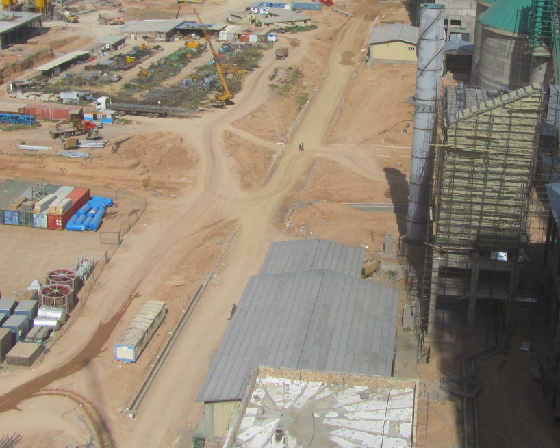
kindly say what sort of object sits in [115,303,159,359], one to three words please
building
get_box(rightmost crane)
[173,0,238,107]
